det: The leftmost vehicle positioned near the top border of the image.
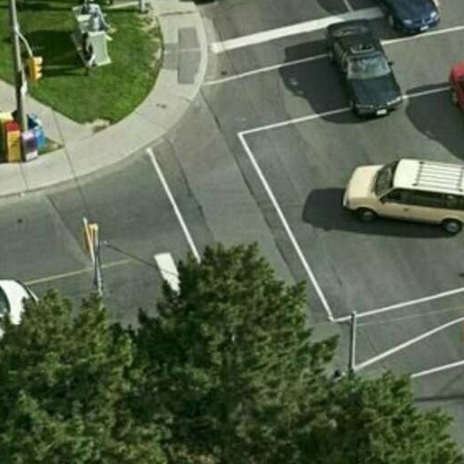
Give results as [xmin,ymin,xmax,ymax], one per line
[323,11,404,111]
